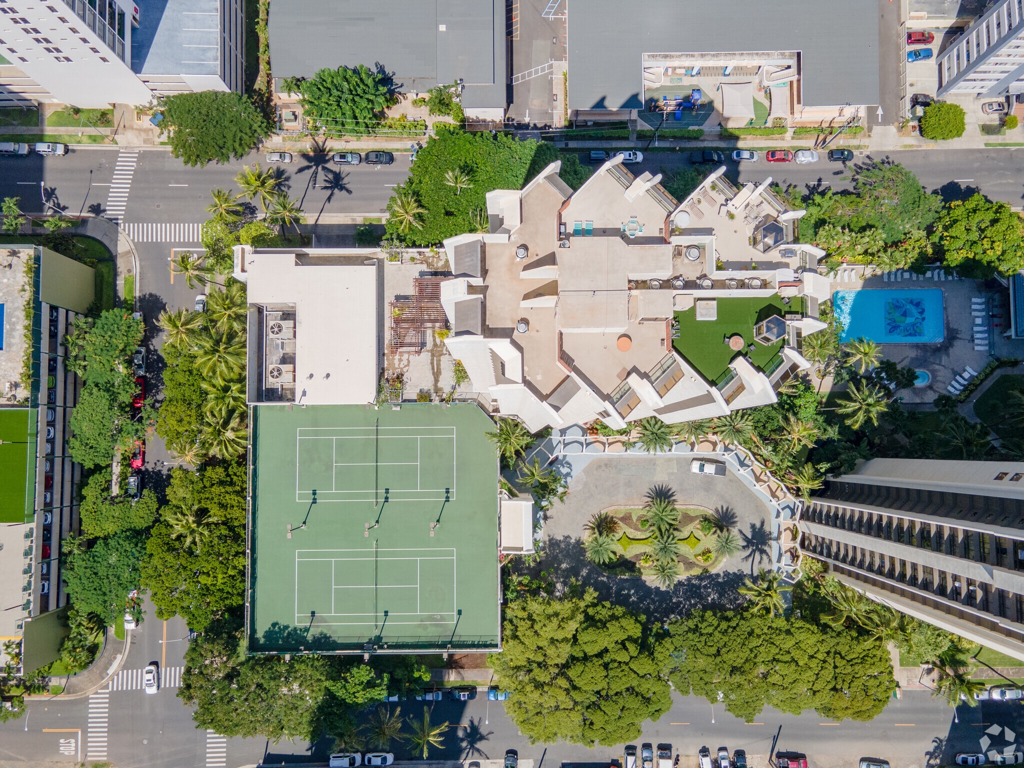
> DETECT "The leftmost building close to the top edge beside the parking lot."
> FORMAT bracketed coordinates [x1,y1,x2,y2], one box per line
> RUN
[567,0,879,132]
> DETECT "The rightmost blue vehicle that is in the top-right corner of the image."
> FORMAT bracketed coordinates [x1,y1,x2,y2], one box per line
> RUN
[905,48,934,64]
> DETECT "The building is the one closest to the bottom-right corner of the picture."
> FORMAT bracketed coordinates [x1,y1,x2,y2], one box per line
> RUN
[801,458,1024,652]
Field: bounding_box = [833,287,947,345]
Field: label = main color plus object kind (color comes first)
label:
blue swimming pool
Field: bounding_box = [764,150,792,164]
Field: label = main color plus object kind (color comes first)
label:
red car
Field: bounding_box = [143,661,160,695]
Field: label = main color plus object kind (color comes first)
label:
white car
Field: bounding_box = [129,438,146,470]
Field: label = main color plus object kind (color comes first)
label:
red vehicle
